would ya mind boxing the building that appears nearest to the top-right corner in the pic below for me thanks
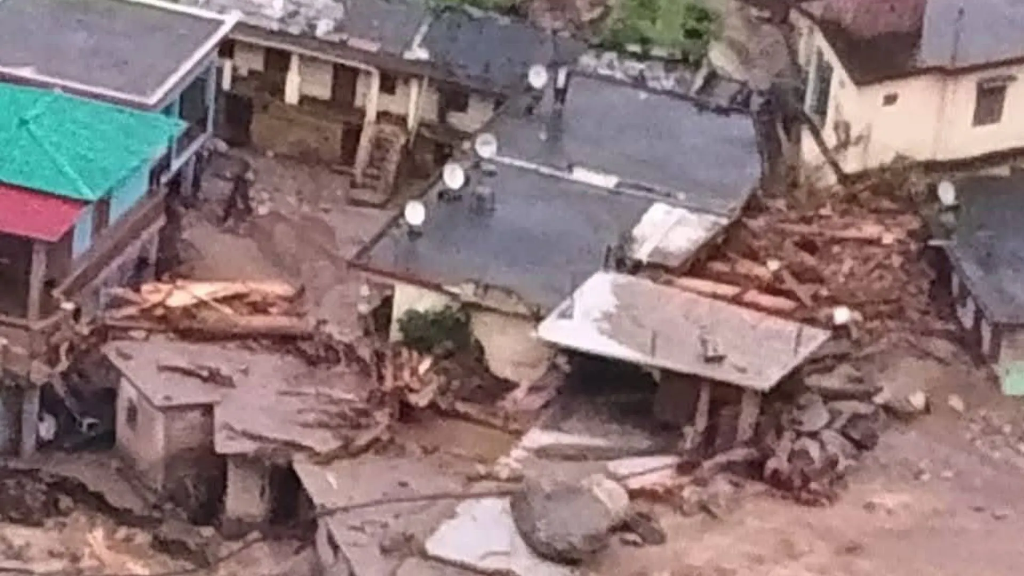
[784,0,1024,178]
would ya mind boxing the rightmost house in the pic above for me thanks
[927,168,1024,394]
